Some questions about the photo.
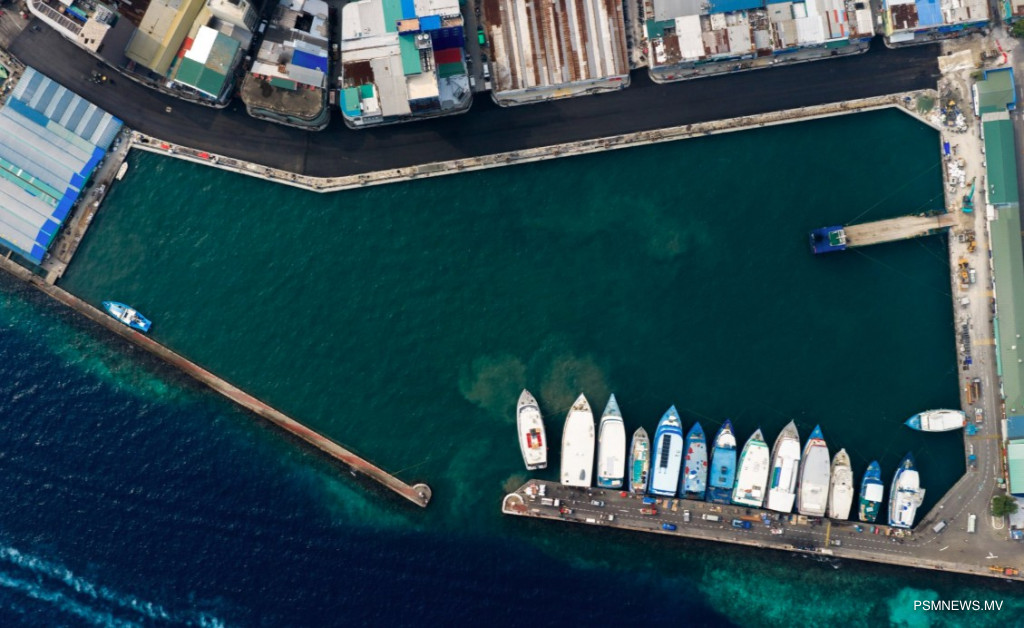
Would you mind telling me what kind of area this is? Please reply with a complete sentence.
It's a port.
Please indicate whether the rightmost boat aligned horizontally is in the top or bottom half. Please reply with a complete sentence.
The rightmost boat aligned horizontally sits in the bottom half of the picture.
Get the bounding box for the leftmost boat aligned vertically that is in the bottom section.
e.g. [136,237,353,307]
[516,389,549,470]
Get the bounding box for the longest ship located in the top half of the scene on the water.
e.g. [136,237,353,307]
[808,211,957,256]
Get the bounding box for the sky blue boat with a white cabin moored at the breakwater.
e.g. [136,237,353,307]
[101,301,154,331]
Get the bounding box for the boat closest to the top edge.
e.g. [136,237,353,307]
[116,163,129,182]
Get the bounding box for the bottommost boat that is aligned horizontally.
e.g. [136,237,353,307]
[904,409,967,432]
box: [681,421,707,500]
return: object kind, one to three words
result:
boat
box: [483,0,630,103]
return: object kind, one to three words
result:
building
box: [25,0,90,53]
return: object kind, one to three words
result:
building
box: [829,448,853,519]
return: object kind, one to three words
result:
boat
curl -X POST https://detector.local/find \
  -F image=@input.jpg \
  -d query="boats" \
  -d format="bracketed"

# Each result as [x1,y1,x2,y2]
[516,389,549,470]
[650,405,683,497]
[829,448,853,519]
[733,428,769,506]
[798,424,830,515]
[681,421,707,500]
[629,426,649,494]
[561,393,596,489]
[887,451,923,528]
[101,301,154,331]
[597,393,625,488]
[857,460,886,522]
[706,418,738,504]
[766,419,801,514]
[904,409,967,432]
[116,163,129,182]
